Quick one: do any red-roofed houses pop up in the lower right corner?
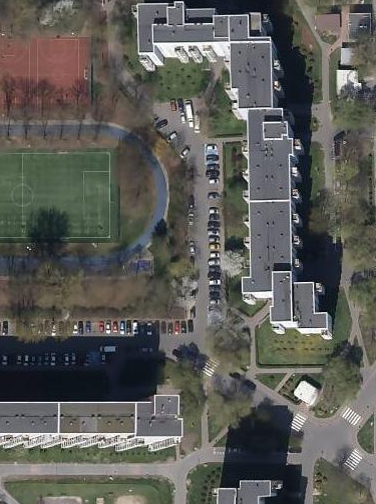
No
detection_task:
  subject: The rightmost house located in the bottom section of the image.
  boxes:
[293,380,318,407]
